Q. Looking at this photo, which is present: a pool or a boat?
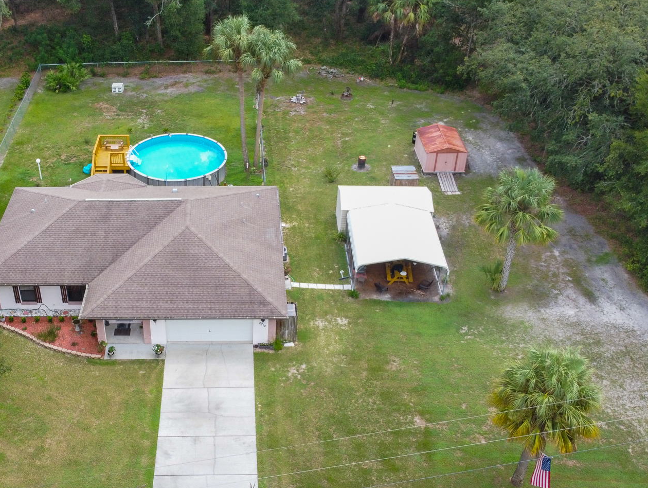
pool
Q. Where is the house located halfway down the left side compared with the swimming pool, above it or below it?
below it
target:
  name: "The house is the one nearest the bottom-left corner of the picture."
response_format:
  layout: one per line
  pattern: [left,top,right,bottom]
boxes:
[0,173,289,342]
